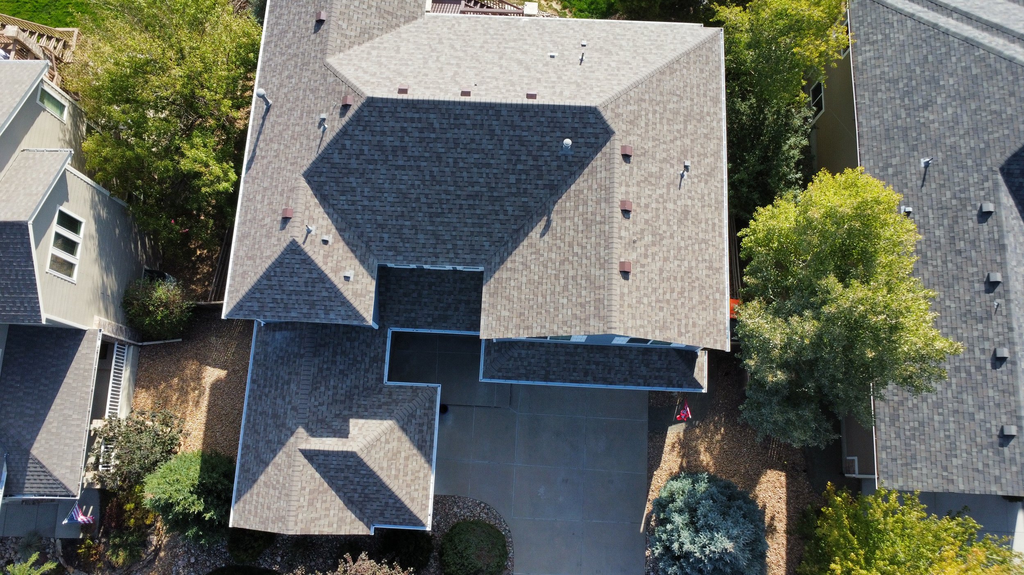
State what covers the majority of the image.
buildings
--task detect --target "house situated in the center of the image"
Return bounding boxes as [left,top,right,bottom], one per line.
[220,0,731,535]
